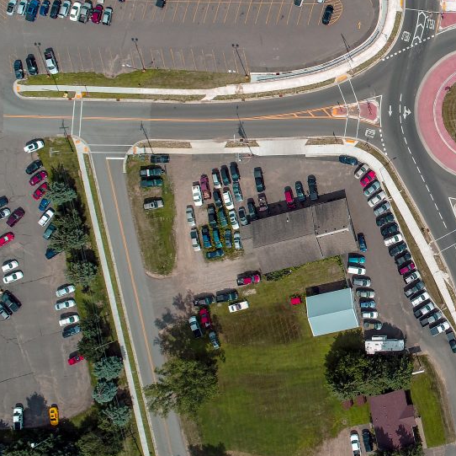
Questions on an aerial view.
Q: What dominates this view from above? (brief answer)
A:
paved ground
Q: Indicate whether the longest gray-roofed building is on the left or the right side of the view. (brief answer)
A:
right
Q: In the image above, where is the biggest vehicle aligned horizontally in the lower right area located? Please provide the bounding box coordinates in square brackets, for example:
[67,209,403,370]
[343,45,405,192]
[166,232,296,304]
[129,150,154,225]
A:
[365,334,411,353]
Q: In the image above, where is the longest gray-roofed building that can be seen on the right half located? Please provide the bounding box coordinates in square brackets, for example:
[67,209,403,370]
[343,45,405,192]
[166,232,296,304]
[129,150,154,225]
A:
[252,198,359,274]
